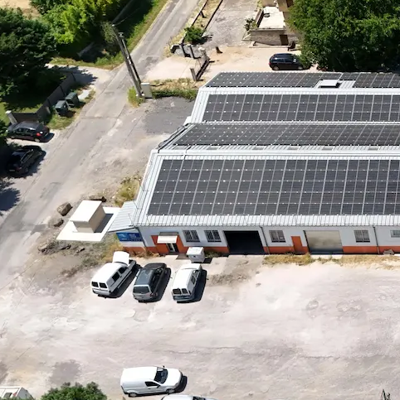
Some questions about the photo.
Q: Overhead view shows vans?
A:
Yes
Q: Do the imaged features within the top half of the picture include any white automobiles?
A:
No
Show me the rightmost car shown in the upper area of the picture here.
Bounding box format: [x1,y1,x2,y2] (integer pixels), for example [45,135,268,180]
[269,51,309,69]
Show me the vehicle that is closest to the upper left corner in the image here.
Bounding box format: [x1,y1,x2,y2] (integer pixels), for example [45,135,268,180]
[10,118,52,139]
